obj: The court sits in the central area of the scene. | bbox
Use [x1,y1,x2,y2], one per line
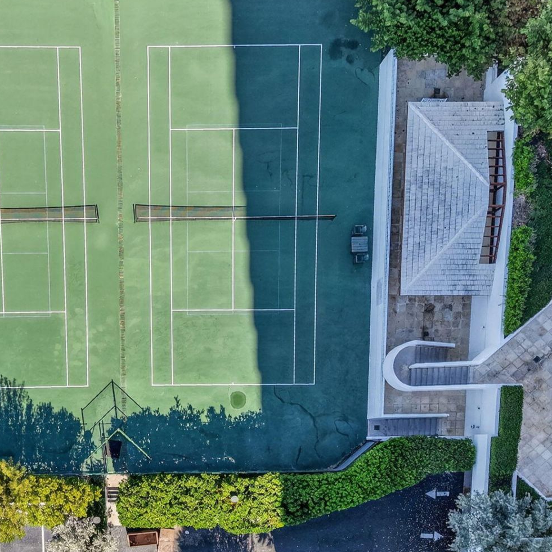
[119,0,382,475]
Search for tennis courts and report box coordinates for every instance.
[0,0,127,480]
[119,0,382,475]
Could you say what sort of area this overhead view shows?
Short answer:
sports ground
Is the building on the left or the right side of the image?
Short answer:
right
